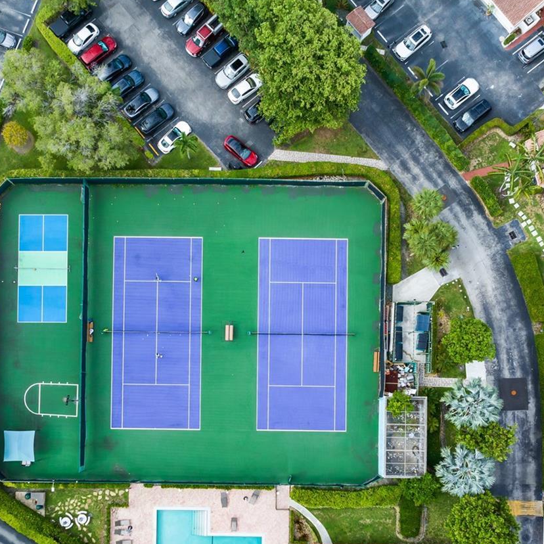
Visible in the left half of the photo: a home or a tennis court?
tennis court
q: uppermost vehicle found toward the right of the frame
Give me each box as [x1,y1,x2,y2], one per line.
[363,0,397,23]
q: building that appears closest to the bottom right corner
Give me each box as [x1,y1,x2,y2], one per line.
[380,396,427,477]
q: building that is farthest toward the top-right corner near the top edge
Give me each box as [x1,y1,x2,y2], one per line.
[467,0,544,42]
